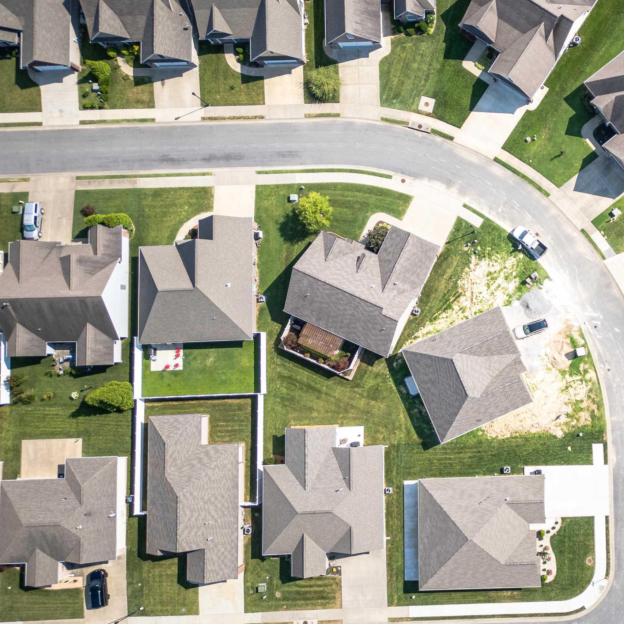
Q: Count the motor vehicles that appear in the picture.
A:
4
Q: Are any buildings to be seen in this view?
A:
Yes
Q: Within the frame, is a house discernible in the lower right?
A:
Yes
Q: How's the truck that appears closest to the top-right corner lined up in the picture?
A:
diagonally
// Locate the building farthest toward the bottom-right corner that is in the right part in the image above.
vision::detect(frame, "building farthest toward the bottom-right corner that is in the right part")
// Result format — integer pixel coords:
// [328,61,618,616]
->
[419,474,545,591]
